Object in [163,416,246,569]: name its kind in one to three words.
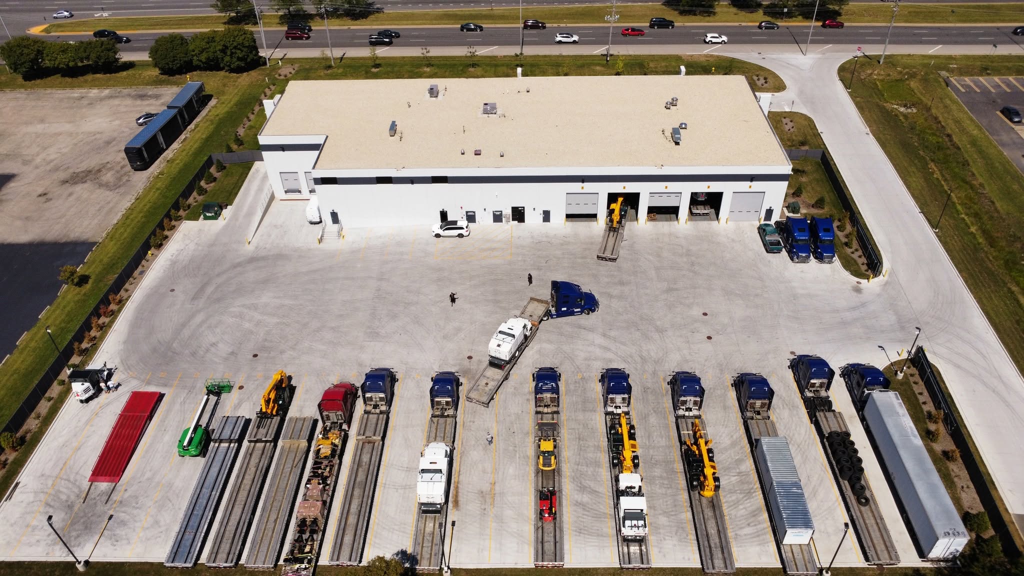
trailer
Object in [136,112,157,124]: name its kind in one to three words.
vehicle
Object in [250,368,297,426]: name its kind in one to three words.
work vehicle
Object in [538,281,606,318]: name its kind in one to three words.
truck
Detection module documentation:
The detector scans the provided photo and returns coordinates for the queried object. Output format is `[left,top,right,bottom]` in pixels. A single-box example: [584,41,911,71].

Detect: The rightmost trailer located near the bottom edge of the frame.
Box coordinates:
[865,391,971,564]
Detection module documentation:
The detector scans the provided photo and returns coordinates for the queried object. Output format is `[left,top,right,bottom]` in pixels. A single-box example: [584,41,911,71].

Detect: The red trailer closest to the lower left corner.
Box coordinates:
[87,390,162,506]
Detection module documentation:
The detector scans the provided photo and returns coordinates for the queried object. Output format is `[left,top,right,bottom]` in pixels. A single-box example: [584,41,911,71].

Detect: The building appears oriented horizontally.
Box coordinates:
[259,75,792,225]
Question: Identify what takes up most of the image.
paved ground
